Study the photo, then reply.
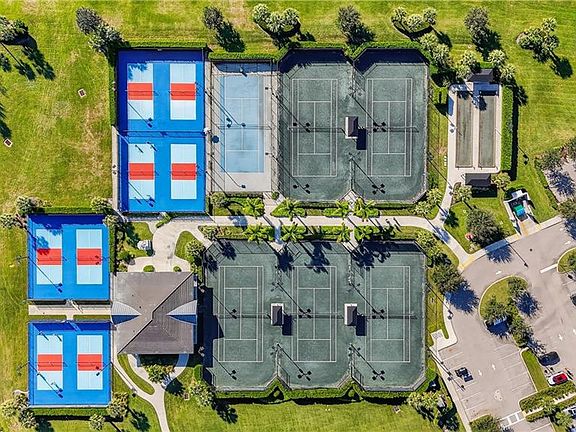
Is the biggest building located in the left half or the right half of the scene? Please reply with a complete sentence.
The biggest building appears in the left half of the scene.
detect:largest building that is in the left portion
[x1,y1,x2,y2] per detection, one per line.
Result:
[110,272,197,354]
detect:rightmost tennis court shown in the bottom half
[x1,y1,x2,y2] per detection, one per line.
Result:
[351,241,424,385]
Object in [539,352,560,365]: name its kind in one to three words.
vehicle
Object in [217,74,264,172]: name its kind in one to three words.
tennis court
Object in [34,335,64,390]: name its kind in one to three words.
sports court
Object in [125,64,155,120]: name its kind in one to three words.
sports court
